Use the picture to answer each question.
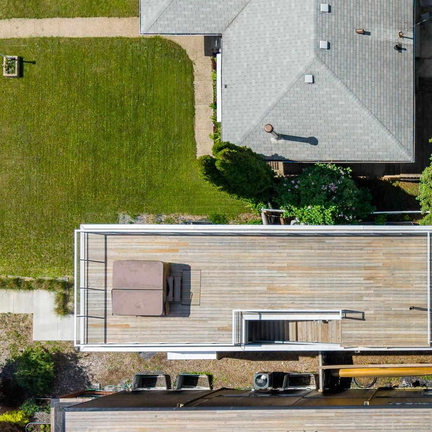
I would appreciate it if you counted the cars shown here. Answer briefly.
zero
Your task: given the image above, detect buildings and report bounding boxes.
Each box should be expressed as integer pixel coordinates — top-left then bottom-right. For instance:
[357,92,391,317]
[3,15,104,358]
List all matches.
[80,224,432,359]
[137,0,418,165]
[63,390,432,432]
